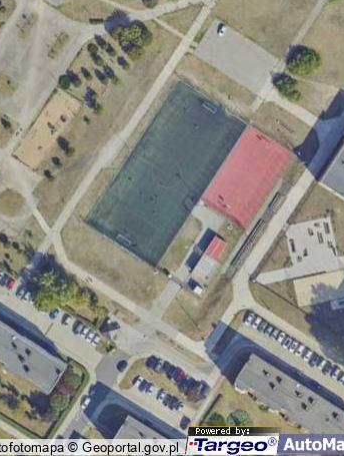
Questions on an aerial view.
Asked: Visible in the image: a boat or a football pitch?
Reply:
football pitch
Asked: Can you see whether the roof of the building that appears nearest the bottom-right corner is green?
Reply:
No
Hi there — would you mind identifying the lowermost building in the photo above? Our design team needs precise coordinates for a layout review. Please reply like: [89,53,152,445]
[110,412,197,456]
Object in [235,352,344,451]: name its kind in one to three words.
building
